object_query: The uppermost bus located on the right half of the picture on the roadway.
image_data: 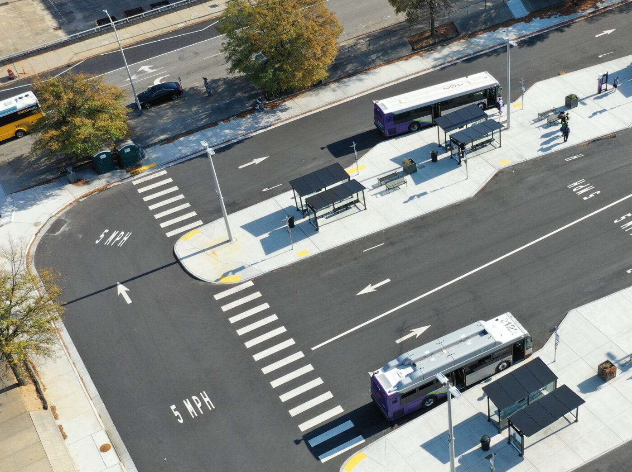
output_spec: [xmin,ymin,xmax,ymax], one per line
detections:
[368,69,502,137]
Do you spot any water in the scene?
No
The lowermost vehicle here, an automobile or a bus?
bus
